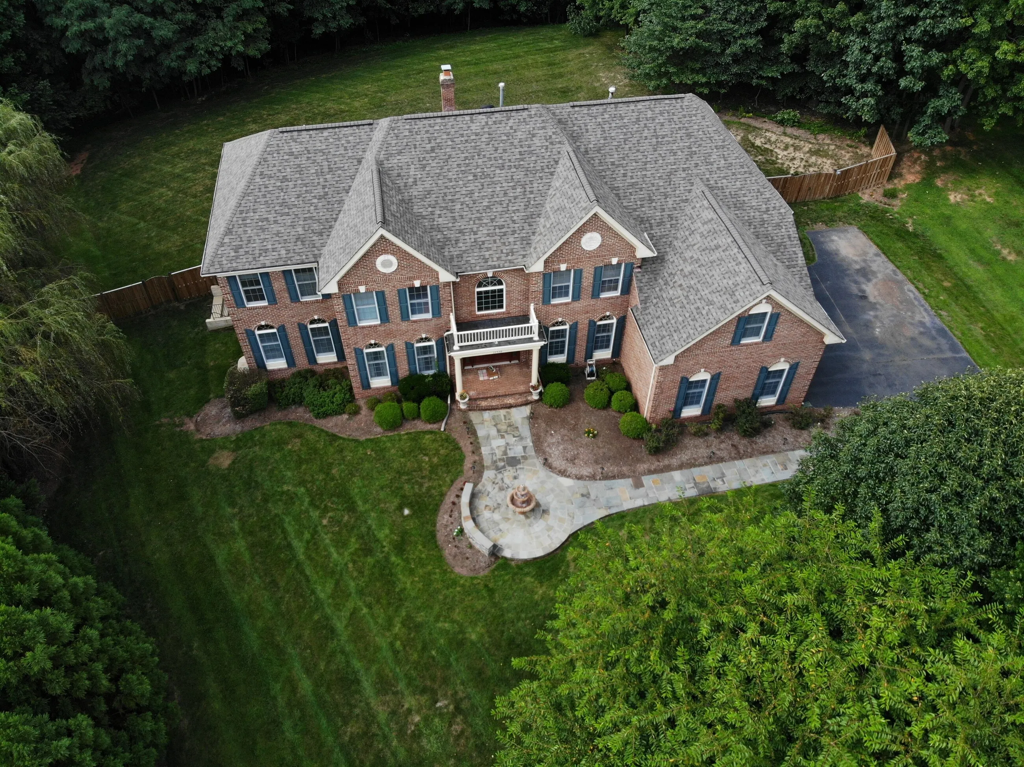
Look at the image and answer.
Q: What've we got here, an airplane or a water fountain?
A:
water fountain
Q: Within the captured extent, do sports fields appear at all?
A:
No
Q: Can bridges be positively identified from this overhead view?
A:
No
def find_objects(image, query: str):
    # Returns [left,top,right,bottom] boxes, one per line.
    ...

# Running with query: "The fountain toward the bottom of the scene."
[507,485,537,516]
